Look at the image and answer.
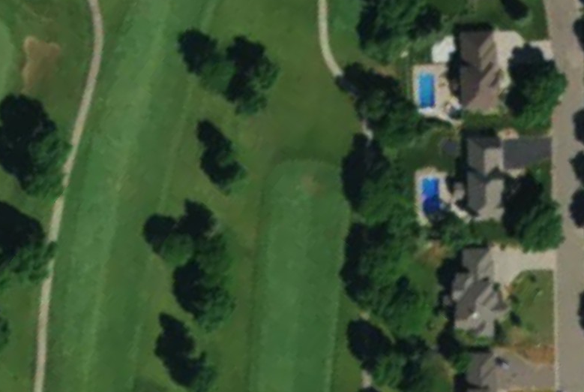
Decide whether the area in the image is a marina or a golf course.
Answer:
golf course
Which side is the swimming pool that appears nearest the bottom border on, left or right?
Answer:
right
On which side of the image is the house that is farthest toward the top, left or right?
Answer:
right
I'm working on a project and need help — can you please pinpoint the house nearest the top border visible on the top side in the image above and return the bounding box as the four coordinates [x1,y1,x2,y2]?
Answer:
[461,31,508,111]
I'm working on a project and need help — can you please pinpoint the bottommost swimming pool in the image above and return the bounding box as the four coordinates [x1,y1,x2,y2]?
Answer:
[422,175,442,216]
